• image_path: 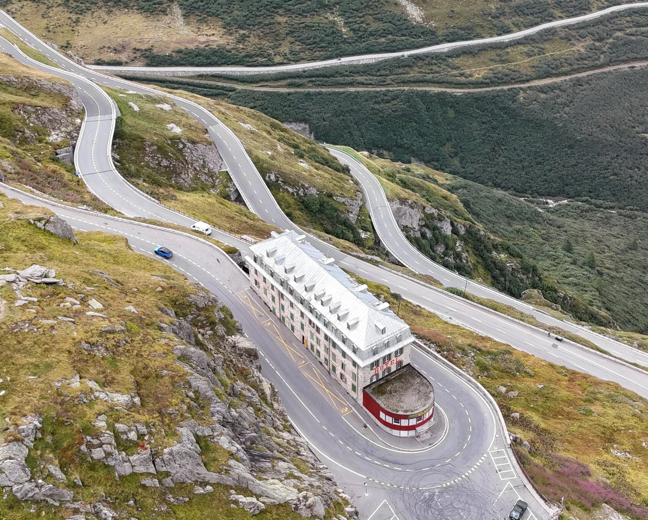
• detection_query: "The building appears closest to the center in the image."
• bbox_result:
[244,228,416,408]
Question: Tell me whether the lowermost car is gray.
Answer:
Yes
